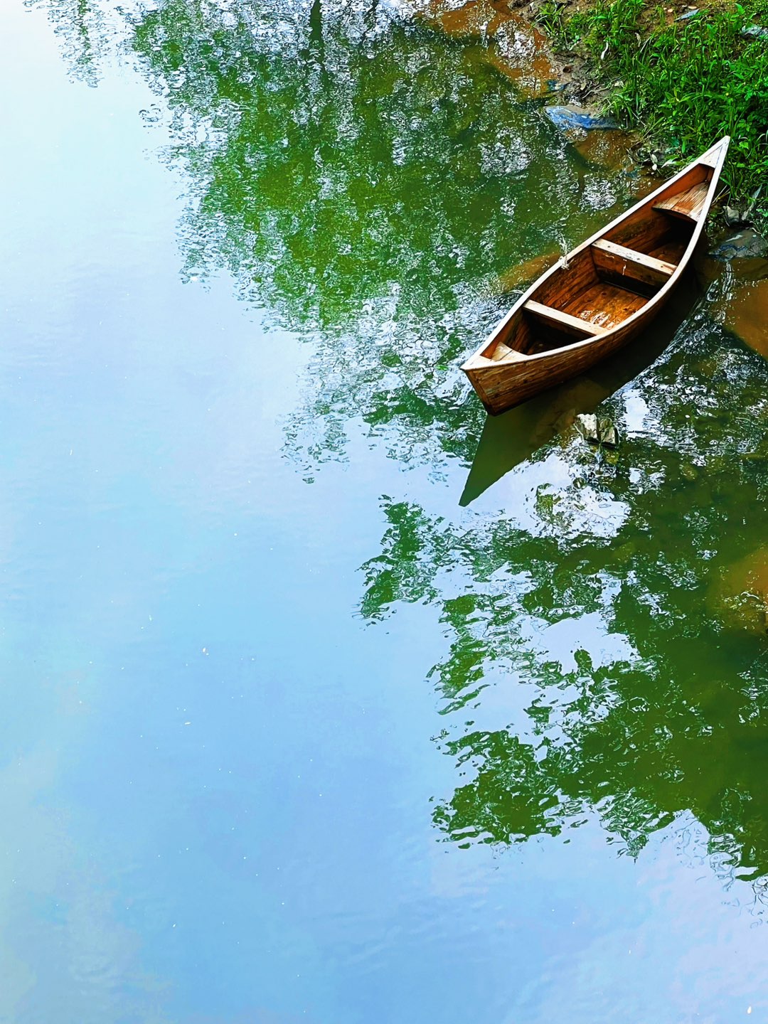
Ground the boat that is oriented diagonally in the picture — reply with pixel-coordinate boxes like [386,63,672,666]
[461,136,727,425]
